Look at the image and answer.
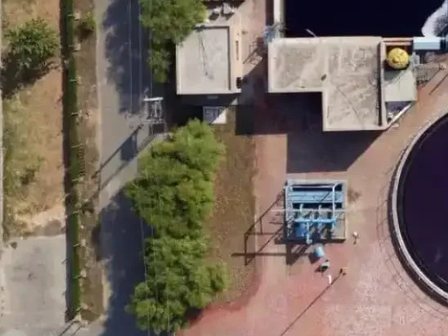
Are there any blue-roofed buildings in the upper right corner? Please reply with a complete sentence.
No, I can find no blue-roofed building in the upper right corner.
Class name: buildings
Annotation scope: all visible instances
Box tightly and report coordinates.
[269,37,389,131]
[177,22,241,94]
